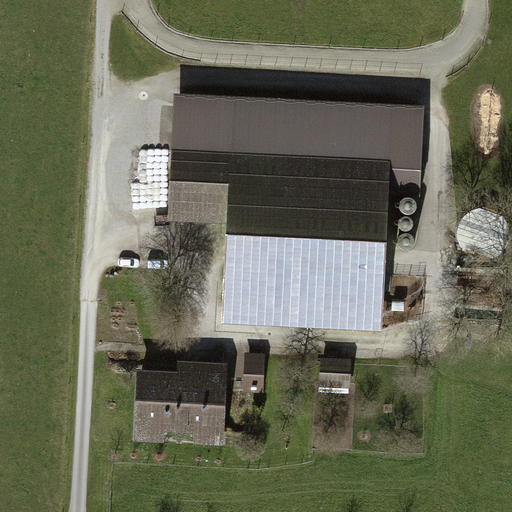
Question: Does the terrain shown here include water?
No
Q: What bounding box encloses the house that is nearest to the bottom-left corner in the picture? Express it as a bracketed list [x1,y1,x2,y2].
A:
[133,360,227,446]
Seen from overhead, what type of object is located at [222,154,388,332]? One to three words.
barn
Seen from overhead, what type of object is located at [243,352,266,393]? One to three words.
shed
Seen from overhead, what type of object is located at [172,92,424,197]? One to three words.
barn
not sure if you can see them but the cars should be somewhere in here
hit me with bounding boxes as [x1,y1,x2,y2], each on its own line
[148,258,168,269]
[118,256,138,268]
